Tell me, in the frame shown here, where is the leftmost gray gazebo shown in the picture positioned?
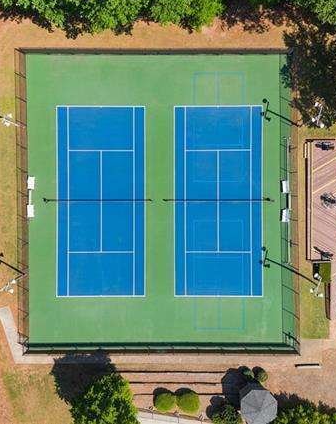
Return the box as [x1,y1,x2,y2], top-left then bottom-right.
[238,382,276,424]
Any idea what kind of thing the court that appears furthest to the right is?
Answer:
tennis court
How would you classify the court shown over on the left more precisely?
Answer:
tennis court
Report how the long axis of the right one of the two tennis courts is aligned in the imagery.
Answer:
from top to bottom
